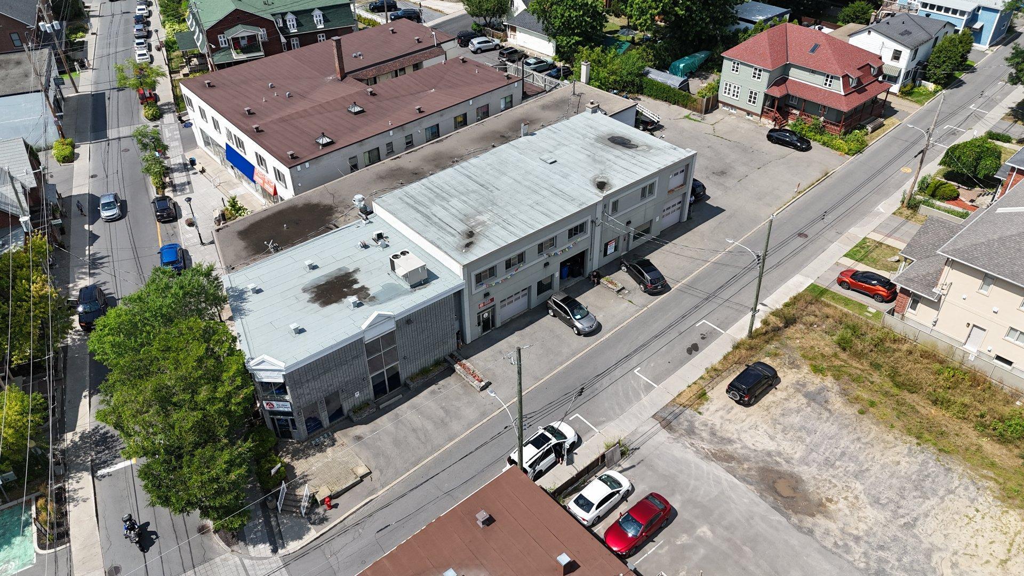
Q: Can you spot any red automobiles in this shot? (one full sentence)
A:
Yes, you can see a red automobile in this photo.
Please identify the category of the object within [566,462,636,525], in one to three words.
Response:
car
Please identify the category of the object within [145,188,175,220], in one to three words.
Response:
car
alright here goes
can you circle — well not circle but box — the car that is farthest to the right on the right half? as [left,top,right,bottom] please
[836,267,901,303]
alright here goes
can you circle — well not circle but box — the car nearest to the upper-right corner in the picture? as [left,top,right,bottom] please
[764,124,814,148]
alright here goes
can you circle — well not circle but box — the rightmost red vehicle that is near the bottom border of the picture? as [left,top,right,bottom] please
[605,481,675,556]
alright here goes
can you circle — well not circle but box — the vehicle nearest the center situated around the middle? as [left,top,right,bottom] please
[543,285,601,334]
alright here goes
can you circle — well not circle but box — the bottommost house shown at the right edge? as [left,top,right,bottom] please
[890,183,1024,375]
